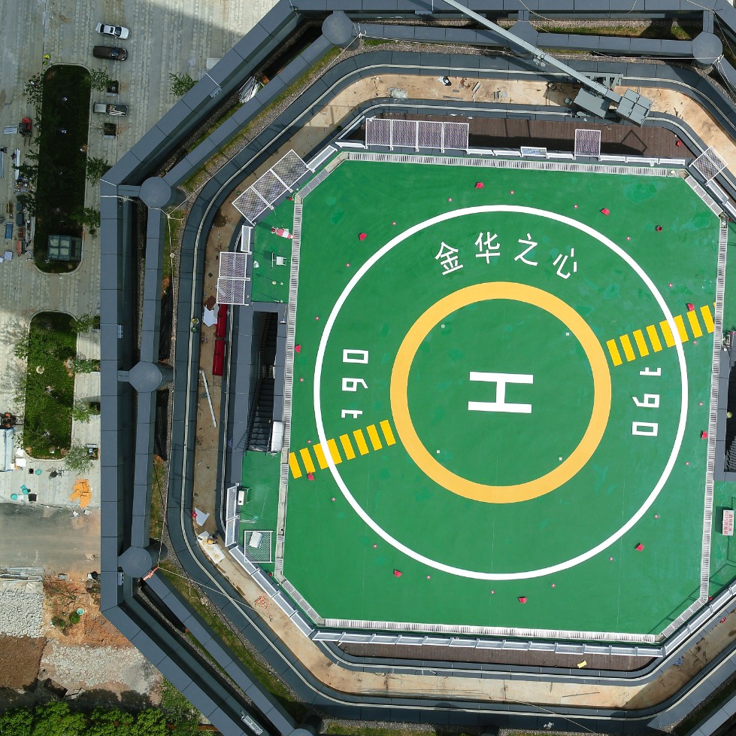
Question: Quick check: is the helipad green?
Yes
